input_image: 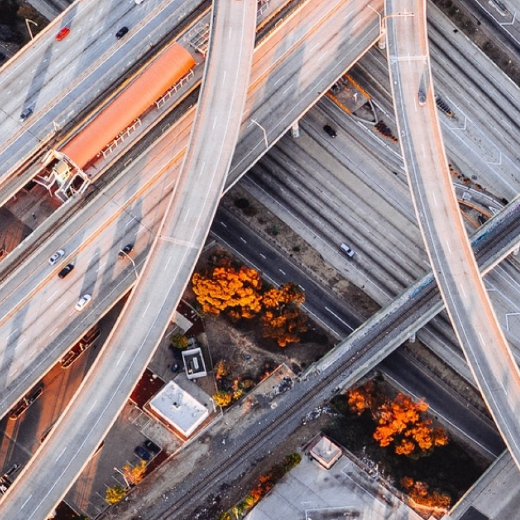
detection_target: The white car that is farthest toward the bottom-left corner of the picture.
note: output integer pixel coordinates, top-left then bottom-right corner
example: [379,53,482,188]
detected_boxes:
[74,295,91,311]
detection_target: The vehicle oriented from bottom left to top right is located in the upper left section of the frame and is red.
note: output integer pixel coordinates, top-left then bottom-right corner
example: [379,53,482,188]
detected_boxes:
[55,27,70,41]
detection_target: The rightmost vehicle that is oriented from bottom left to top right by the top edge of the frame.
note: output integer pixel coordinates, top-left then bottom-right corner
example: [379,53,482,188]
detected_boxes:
[114,25,128,39]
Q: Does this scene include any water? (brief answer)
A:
No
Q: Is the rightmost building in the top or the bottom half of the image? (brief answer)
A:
bottom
